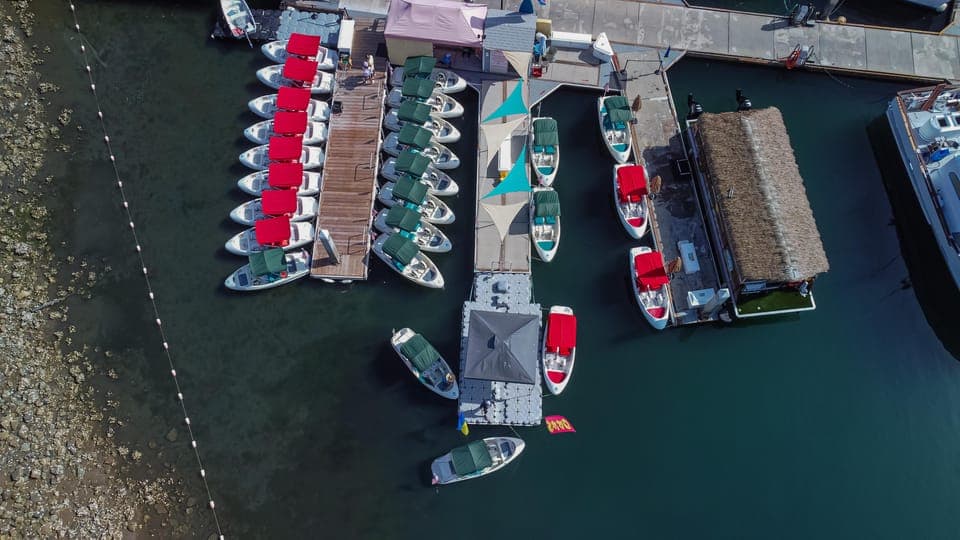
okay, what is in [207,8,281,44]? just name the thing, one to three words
pier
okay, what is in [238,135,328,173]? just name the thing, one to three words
boat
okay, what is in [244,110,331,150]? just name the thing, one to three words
boat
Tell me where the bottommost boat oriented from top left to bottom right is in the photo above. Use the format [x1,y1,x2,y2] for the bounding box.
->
[388,327,459,399]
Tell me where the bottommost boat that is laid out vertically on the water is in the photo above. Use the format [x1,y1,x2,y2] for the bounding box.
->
[539,304,577,395]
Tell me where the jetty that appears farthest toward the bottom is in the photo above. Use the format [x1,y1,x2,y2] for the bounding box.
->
[454,267,540,428]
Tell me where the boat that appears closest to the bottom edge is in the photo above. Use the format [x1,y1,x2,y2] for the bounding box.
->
[423,436,525,488]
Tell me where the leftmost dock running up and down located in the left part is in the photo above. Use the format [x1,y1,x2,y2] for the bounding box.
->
[316,8,383,290]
